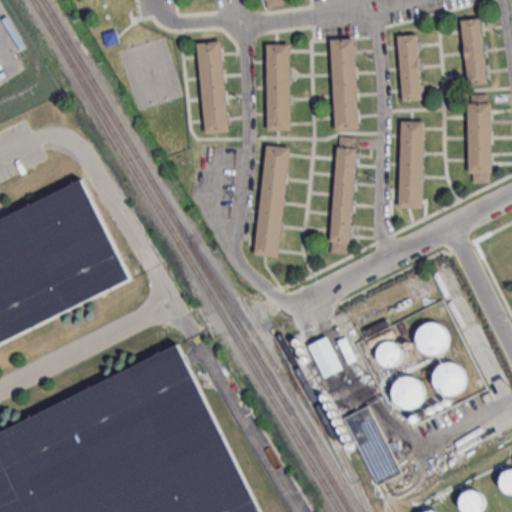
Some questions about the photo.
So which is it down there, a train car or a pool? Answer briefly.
train car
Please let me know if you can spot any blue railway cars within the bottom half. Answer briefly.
No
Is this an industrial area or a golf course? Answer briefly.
industrial area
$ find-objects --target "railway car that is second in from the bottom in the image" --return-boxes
[293,366,316,402]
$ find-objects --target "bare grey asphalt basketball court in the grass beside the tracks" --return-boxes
[122,40,184,110]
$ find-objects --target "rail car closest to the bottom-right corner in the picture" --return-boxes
[312,402,336,438]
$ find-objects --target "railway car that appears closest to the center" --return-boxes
[274,331,297,368]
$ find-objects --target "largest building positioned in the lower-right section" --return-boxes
[345,406,400,482]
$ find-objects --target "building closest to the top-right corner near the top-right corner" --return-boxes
[459,18,488,88]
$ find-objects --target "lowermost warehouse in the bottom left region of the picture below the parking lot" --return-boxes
[0,342,264,512]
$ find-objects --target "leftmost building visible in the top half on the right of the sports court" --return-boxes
[196,40,231,133]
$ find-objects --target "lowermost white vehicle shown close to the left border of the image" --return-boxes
[14,158,26,175]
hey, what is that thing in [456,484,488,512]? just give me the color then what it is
white storage tank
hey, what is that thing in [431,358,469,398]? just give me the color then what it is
white storage tank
